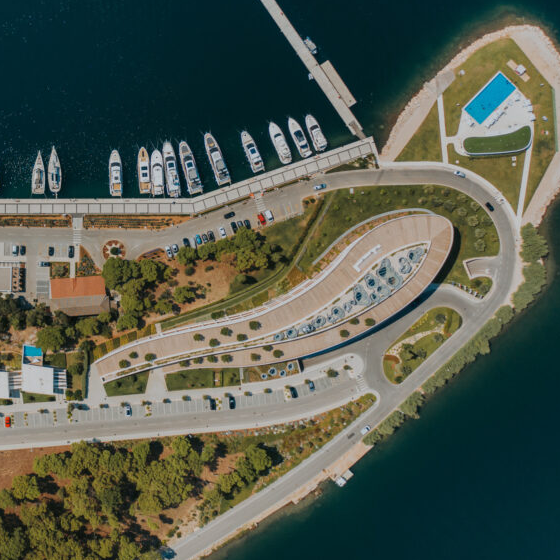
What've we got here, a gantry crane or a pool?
pool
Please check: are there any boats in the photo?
Yes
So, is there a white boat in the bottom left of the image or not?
No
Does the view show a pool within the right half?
Yes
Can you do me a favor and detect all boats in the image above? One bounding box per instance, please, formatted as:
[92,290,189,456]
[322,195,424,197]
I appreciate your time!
[201,130,231,187]
[287,117,313,159]
[158,132,181,198]
[242,131,267,174]
[305,113,328,153]
[150,145,164,198]
[266,121,293,166]
[48,140,62,198]
[136,143,152,198]
[178,139,202,196]
[306,40,314,51]
[109,144,123,198]
[32,151,45,197]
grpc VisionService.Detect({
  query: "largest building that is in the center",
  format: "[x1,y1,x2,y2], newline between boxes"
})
[95,213,454,383]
